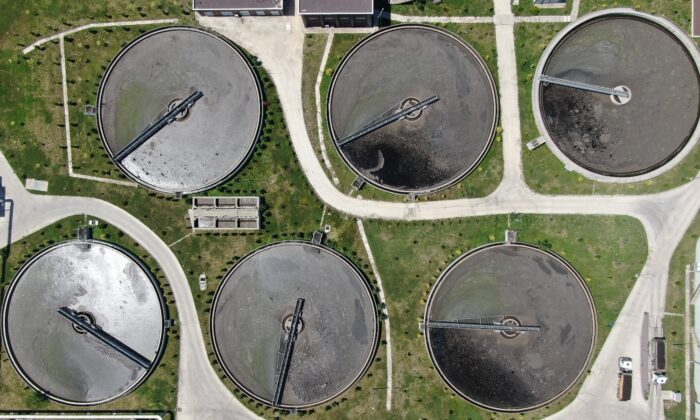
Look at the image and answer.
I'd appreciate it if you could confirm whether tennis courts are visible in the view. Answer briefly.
No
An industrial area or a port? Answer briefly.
industrial area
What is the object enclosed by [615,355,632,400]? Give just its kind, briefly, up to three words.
vehicle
